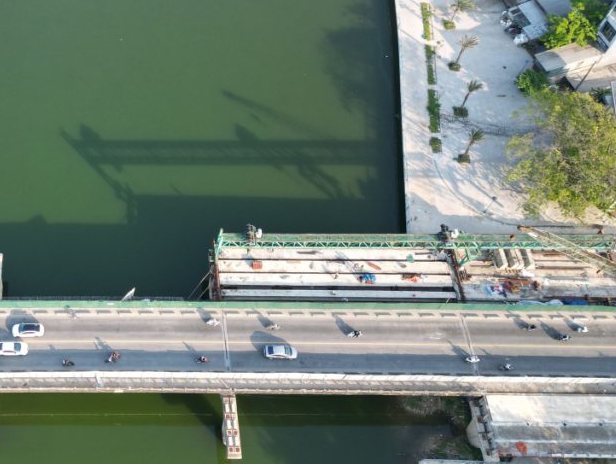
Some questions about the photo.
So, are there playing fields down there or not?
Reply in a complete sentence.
No, no playing field can be seen from above.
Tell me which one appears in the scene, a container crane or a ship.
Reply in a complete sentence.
Of the two, only a container crane appears.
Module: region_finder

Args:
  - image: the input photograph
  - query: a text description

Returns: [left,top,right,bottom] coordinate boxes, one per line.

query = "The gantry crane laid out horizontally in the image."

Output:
[190,222,615,303]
